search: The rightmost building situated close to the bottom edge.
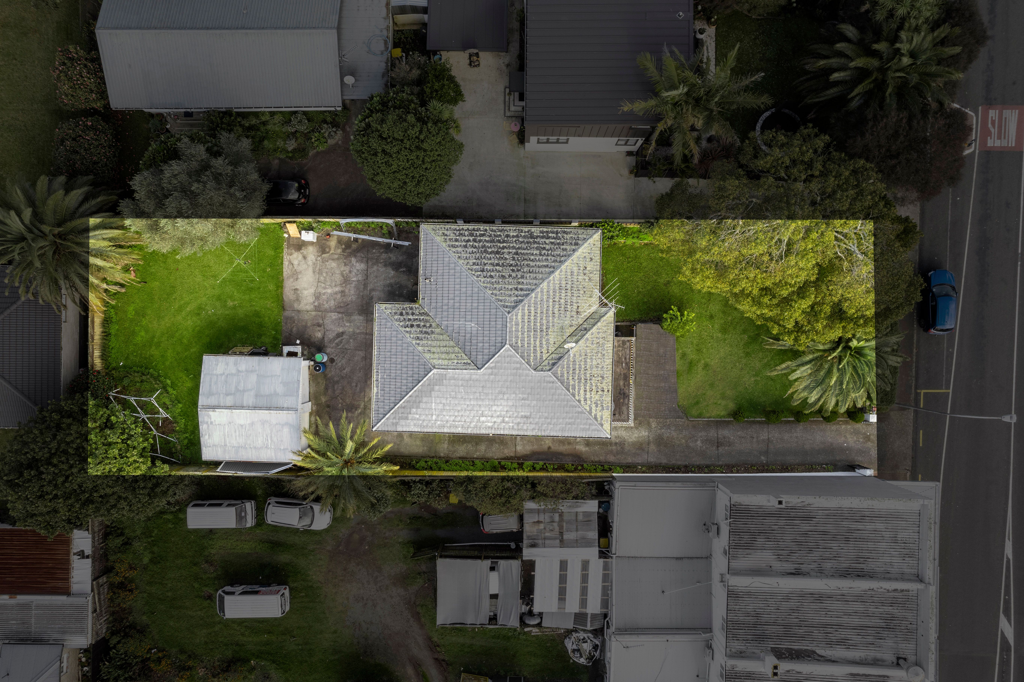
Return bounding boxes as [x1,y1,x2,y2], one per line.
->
[601,472,943,682]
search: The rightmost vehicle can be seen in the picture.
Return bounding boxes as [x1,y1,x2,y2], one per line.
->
[917,270,958,335]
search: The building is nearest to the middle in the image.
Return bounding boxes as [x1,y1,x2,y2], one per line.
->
[370,221,617,440]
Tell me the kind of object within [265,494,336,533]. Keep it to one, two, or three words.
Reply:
car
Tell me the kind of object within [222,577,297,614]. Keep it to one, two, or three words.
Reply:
van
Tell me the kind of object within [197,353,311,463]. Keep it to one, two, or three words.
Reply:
building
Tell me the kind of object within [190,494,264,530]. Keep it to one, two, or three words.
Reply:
van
